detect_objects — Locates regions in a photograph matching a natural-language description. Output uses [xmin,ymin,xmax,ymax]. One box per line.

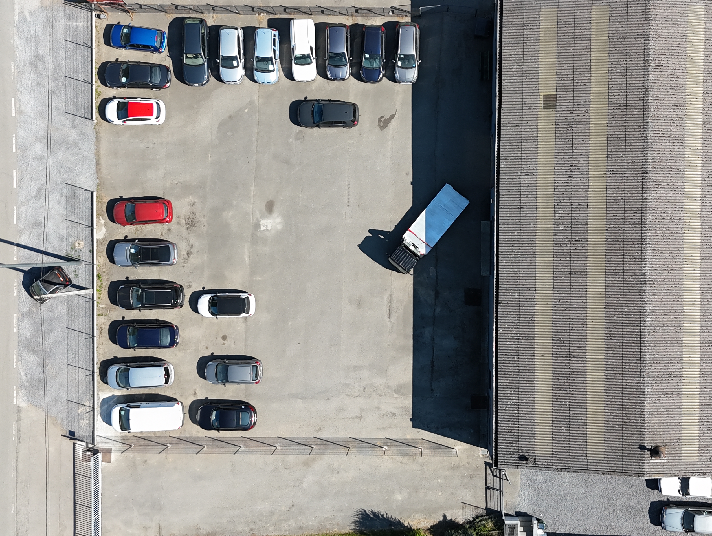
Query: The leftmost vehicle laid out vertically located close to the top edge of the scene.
[179,19,212,88]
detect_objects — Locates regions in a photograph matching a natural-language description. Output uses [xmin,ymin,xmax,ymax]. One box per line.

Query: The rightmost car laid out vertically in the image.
[391,23,422,85]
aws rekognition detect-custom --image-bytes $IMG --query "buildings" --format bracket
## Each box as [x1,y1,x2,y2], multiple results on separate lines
[490,0,712,481]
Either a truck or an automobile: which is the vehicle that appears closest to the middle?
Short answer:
truck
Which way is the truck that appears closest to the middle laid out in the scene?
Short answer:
diagonally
